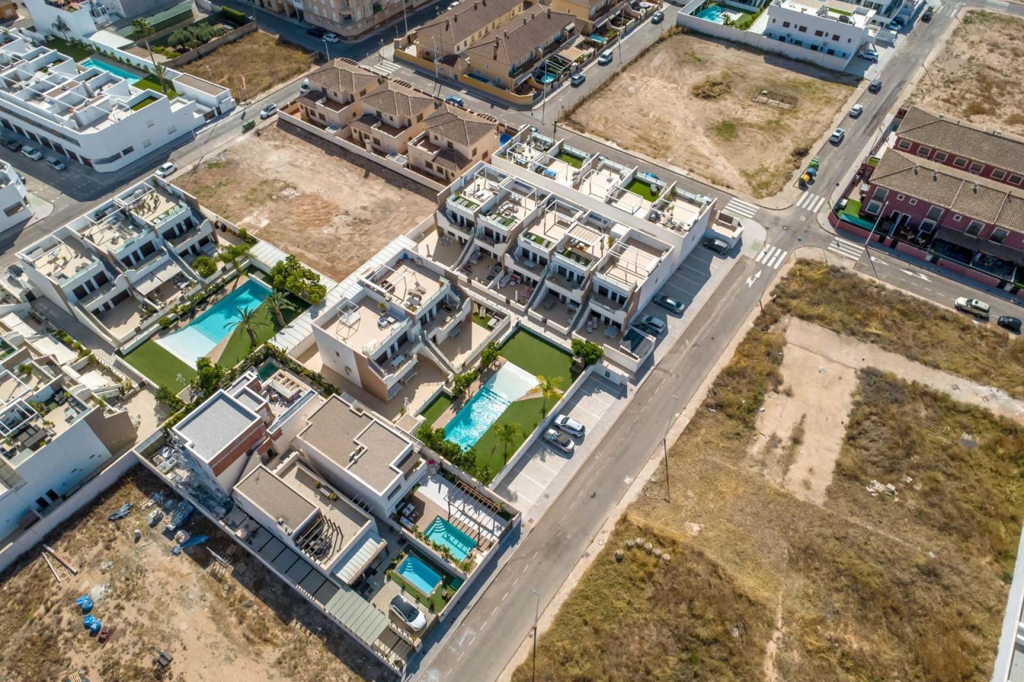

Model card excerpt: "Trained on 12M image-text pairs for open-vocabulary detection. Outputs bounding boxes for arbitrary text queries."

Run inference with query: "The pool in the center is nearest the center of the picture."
[441,362,535,450]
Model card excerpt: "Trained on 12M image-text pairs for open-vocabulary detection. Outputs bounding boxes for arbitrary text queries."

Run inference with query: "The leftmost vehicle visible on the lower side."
[387,595,427,632]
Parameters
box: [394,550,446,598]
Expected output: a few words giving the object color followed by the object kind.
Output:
blue swimming pool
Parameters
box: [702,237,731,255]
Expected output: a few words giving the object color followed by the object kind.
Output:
black car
